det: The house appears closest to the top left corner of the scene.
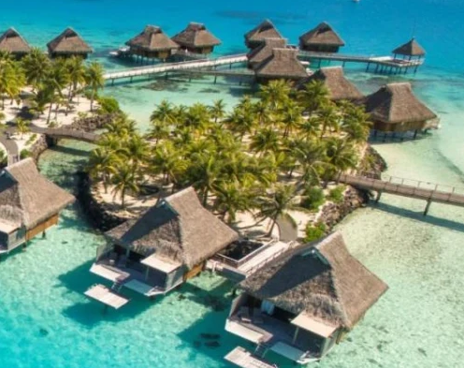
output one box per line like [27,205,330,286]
[0,24,27,54]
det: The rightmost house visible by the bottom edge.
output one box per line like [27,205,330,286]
[217,231,389,368]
